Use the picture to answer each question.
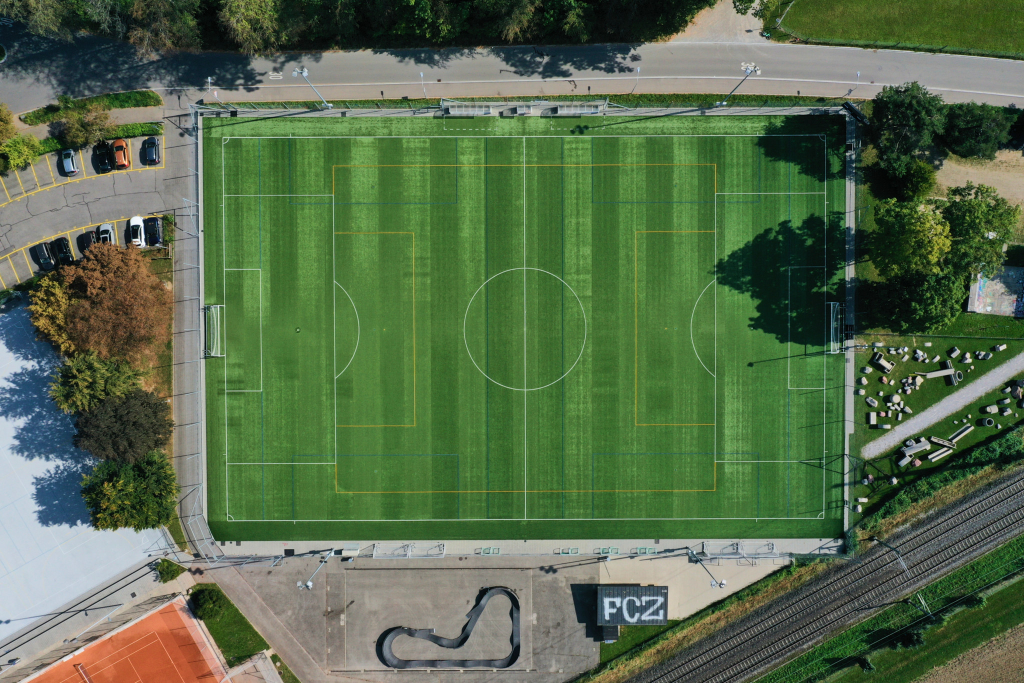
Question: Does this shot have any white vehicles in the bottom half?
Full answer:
No, no white vehicle appears in the bottom half.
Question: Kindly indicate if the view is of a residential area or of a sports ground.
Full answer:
What you see here is a sports ground.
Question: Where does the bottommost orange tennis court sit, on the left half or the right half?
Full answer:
The bottommost orange tennis court sits on the left side.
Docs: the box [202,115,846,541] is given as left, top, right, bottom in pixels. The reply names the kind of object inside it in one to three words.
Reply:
soccer field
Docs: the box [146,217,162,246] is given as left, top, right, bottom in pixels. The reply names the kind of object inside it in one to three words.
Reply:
car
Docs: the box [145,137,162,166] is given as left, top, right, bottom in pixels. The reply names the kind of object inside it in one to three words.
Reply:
car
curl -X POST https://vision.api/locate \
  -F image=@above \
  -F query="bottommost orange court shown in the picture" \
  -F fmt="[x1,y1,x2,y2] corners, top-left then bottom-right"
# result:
[18,595,232,683]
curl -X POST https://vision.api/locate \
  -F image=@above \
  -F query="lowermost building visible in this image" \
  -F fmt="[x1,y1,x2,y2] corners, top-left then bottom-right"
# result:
[596,581,668,640]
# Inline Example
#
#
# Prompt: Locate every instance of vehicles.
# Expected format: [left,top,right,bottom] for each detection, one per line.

[99,223,117,252]
[63,149,81,178]
[35,241,57,271]
[56,237,75,267]
[129,216,146,248]
[82,230,101,260]
[146,217,162,246]
[96,141,115,174]
[145,137,162,166]
[113,139,131,170]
